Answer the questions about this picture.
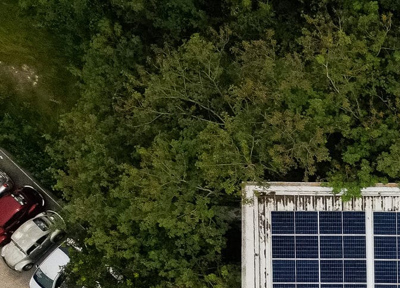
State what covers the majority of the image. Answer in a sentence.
For the most part, this view shows trees.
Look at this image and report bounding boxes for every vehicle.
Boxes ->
[0,187,43,251]
[0,167,17,199]
[5,217,69,278]
[31,239,82,288]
